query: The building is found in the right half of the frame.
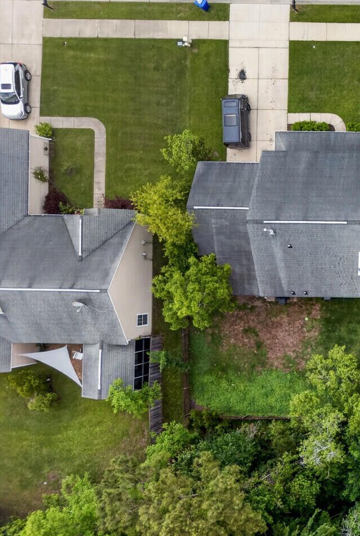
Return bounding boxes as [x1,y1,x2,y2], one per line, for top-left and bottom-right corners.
[187,131,360,297]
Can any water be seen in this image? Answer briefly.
No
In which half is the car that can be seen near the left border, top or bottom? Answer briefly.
top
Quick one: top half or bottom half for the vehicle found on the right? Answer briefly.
top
